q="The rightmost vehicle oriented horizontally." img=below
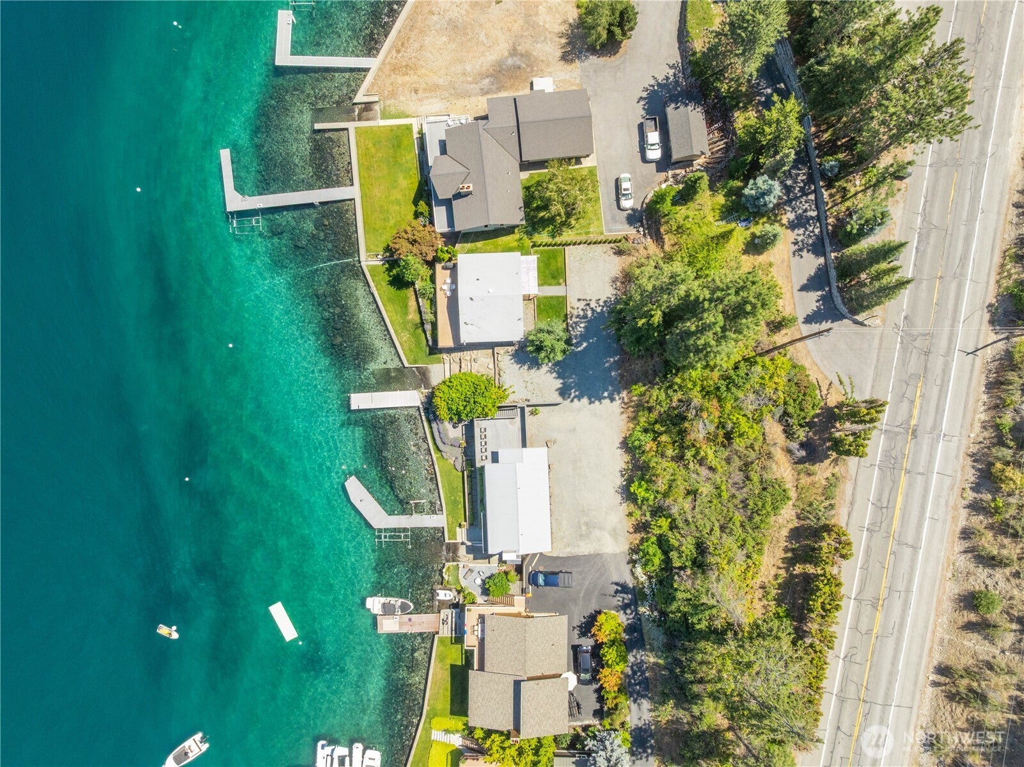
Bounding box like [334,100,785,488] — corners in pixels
[529,571,574,591]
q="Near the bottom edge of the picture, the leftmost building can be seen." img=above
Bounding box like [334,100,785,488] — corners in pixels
[465,594,568,743]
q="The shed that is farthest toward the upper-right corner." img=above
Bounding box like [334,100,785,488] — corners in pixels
[662,102,709,168]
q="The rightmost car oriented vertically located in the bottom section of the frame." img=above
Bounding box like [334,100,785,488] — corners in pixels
[577,648,596,686]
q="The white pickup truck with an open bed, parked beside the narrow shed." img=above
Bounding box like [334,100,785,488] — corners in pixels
[642,114,663,161]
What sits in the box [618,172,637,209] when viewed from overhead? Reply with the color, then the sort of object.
white car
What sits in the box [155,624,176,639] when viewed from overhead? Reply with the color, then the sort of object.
white boat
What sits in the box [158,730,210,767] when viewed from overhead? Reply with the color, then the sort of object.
white boat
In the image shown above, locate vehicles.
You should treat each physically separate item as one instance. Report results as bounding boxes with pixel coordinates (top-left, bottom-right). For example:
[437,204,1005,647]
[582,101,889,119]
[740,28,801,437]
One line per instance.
[618,172,637,209]
[529,571,574,591]
[642,114,663,161]
[577,648,596,686]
